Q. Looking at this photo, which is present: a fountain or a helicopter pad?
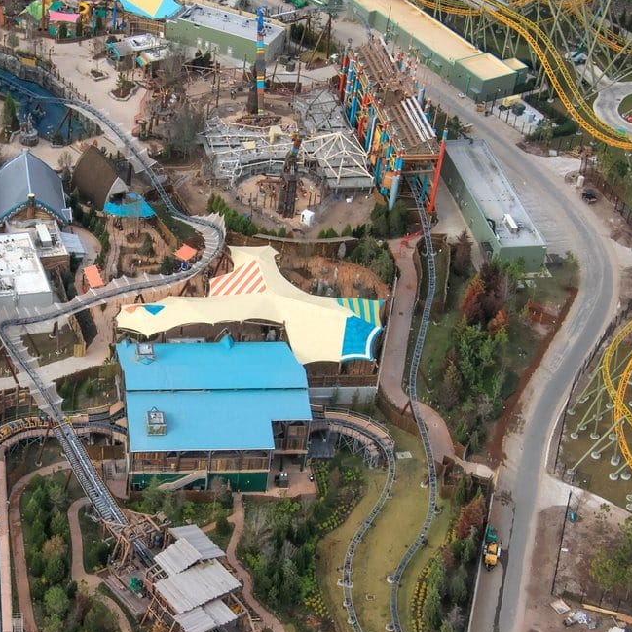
fountain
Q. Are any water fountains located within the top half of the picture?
Yes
